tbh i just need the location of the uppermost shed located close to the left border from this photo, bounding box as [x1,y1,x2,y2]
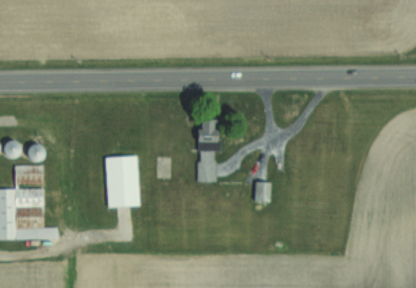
[15,164,44,184]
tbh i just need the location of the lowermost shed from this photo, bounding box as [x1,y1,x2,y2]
[16,228,58,240]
